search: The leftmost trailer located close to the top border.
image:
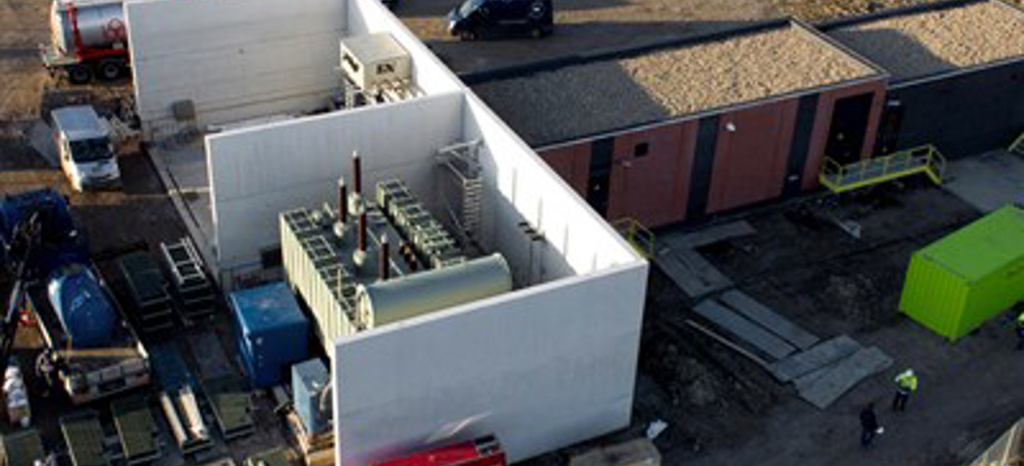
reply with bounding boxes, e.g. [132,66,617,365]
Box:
[35,0,132,79]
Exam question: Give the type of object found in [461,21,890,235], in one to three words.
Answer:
building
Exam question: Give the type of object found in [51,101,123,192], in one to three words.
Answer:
van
